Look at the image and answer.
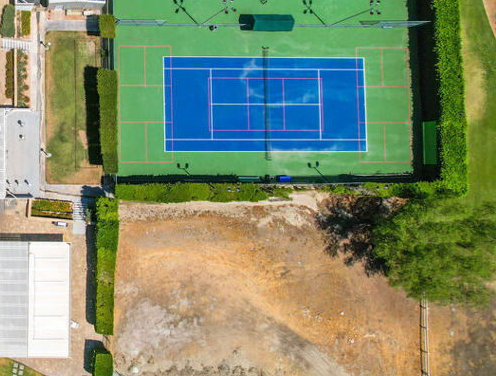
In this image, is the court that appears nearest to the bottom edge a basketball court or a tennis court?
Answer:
tennis court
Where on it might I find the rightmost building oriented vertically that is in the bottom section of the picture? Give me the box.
[27,239,70,358]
